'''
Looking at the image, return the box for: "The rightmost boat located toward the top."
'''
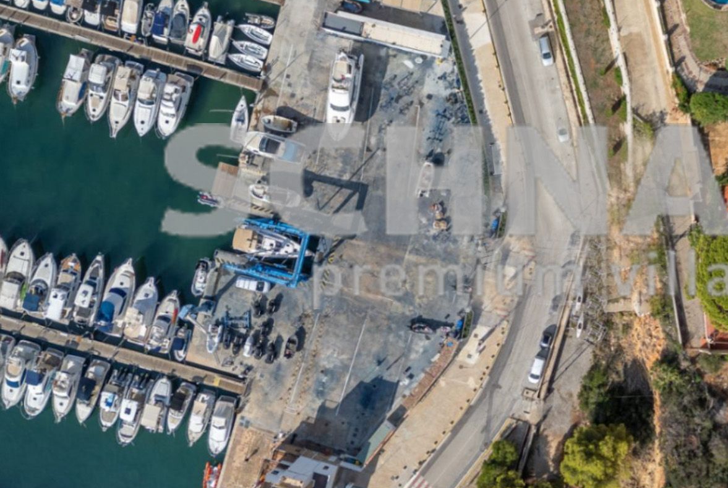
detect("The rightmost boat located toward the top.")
[413,162,431,203]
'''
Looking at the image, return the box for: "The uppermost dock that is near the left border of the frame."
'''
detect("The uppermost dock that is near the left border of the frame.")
[0,3,261,89]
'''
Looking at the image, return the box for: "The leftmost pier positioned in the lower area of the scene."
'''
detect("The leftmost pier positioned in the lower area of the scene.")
[0,315,244,394]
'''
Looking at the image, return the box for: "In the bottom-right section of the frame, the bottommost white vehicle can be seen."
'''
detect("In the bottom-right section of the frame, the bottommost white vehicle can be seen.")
[525,354,546,390]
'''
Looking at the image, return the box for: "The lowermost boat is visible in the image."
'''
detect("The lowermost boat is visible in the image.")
[202,455,225,488]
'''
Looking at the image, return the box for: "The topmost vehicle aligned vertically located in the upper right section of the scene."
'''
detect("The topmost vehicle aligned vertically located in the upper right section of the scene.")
[536,33,553,66]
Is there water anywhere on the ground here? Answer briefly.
Yes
